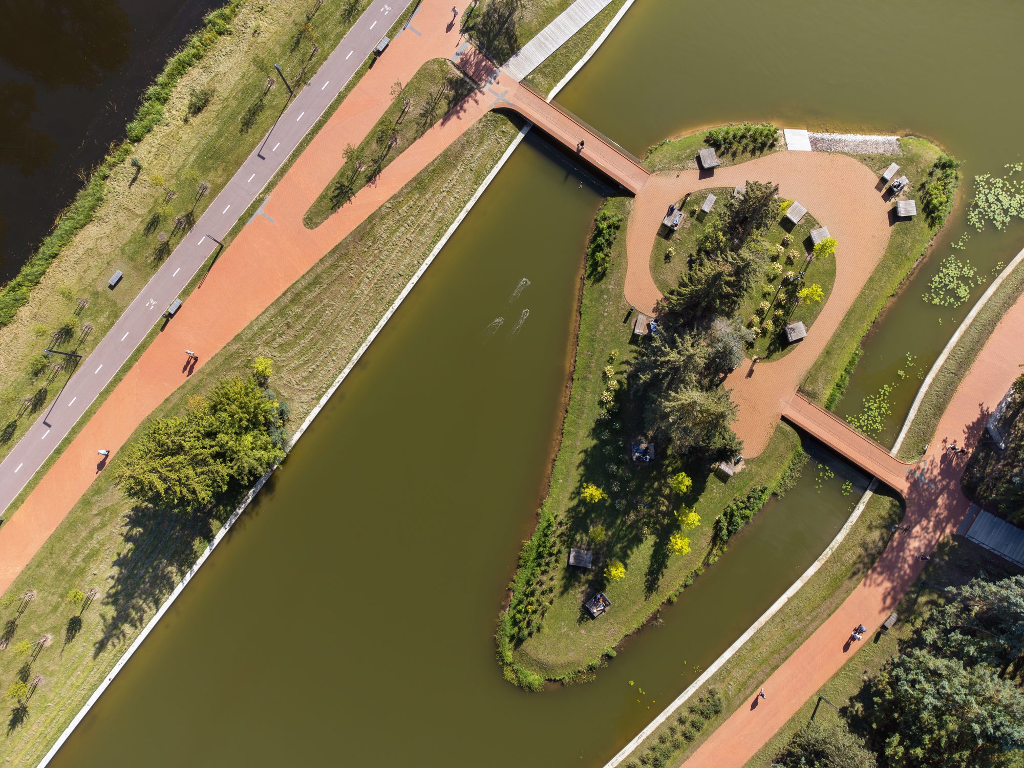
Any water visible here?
Yes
